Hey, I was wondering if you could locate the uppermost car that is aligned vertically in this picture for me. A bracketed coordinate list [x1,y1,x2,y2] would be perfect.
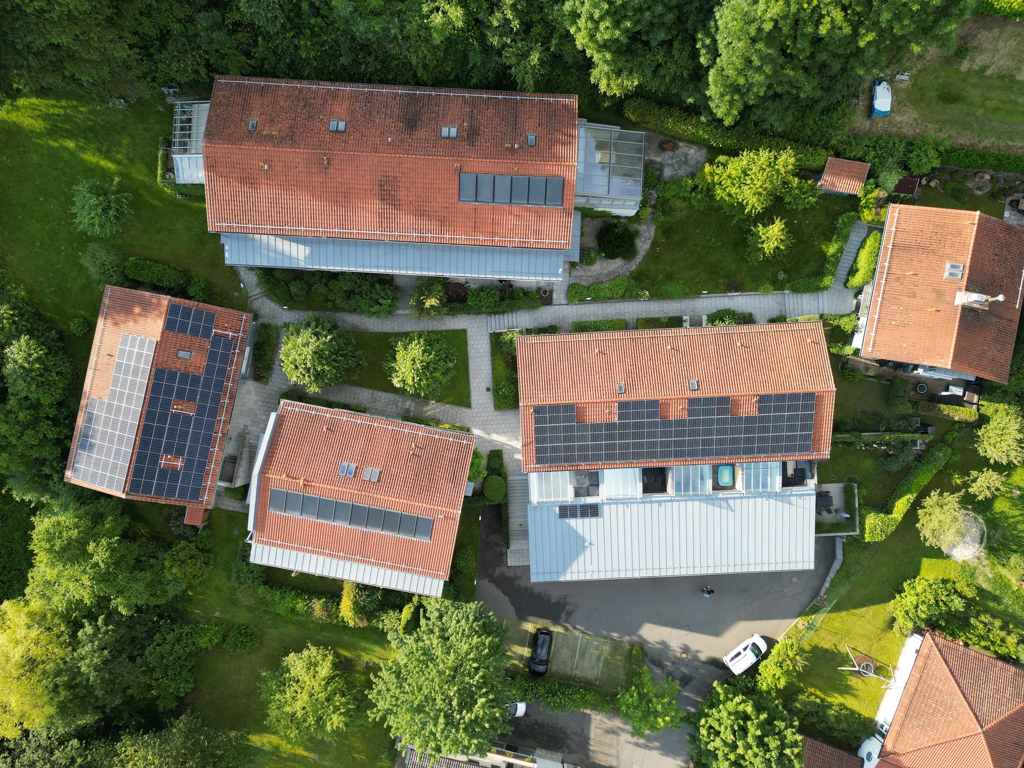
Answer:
[528,626,553,676]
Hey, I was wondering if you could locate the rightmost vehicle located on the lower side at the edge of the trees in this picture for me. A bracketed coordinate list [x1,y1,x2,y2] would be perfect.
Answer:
[721,633,766,677]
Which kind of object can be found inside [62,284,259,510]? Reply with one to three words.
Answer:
house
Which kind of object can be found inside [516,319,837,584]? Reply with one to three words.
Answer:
house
